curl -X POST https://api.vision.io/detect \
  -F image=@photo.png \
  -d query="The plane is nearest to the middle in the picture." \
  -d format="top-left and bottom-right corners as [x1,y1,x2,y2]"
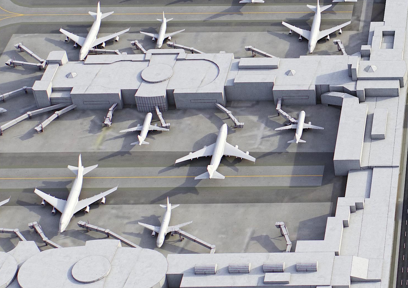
[173,123,255,176]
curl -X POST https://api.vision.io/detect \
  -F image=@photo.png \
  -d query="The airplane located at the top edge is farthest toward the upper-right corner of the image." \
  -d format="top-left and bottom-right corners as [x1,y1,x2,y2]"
[280,0,351,53]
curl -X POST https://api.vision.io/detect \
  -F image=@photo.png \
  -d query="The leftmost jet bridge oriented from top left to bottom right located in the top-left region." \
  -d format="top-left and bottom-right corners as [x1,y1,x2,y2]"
[13,44,47,64]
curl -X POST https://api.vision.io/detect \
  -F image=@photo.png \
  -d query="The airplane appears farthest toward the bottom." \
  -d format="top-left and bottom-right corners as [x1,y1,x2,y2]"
[138,199,190,247]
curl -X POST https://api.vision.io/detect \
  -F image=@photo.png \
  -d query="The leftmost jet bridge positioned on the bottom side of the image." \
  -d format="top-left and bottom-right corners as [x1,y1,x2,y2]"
[0,225,28,240]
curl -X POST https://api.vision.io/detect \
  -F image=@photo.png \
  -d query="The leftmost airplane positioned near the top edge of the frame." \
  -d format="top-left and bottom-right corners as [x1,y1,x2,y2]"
[56,4,129,60]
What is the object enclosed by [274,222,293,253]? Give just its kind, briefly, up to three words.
jet bridge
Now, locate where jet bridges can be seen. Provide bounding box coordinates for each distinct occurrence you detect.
[332,39,348,55]
[77,222,141,248]
[13,44,47,64]
[0,225,28,240]
[155,107,172,129]
[0,104,69,135]
[33,105,78,135]
[4,59,47,71]
[244,46,277,58]
[105,104,118,131]
[0,86,33,104]
[130,40,147,54]
[27,222,62,248]
[169,227,217,253]
[216,103,246,129]
[165,41,205,54]
[276,99,300,126]
[274,222,293,253]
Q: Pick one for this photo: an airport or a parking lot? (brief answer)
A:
airport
